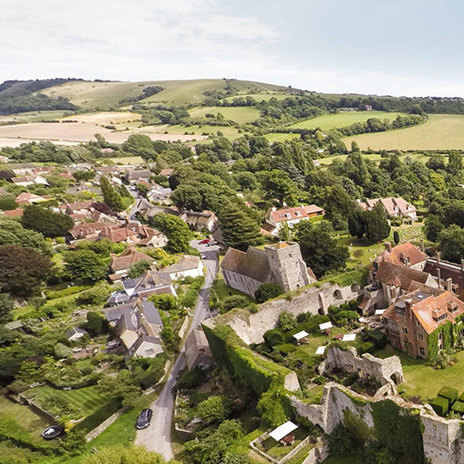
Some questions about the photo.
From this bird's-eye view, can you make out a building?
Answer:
Yes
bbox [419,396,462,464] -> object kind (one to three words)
building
